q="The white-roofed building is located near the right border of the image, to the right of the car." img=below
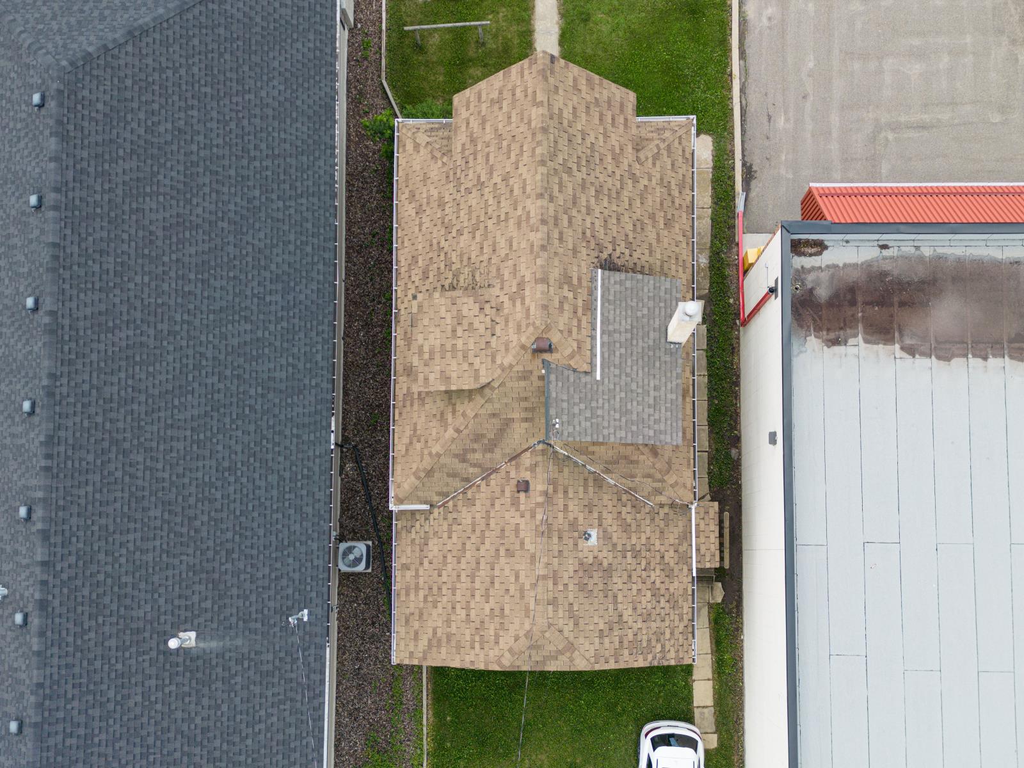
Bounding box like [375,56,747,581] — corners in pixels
[733,185,1024,768]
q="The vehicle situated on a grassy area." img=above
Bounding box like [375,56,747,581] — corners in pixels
[638,720,705,768]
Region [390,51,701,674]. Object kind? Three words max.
house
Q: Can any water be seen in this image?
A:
No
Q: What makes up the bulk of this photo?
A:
buildings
